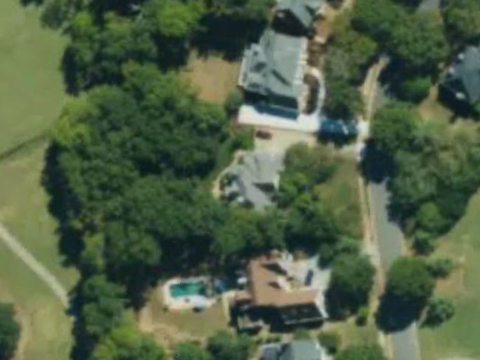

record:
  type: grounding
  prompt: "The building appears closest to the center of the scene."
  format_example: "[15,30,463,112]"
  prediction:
[227,142,285,212]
